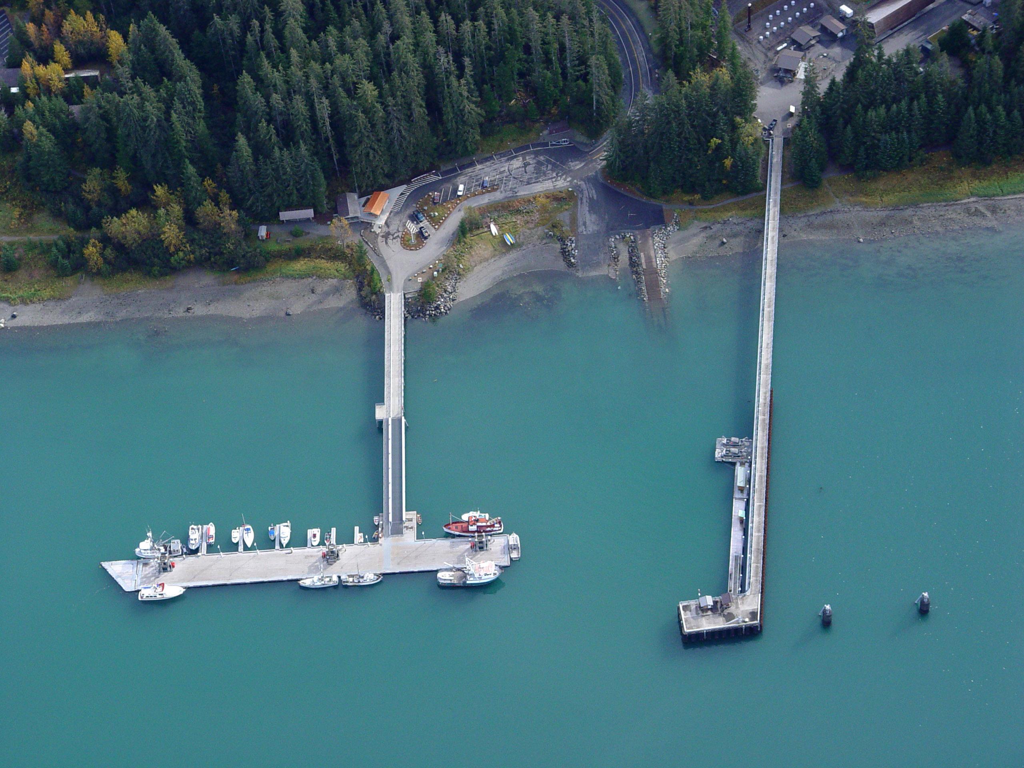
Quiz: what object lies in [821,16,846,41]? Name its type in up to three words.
shed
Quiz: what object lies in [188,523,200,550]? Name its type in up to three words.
boat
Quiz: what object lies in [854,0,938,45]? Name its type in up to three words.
building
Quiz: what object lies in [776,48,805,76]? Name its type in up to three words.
shed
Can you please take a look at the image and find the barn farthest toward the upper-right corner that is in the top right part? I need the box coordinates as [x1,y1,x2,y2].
[961,2,1001,33]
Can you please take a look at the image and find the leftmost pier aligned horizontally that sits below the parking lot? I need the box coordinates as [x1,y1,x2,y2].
[101,534,510,593]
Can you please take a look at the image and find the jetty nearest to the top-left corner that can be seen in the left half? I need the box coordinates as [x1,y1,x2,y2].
[384,290,405,418]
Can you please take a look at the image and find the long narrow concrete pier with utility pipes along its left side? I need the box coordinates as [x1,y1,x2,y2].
[745,136,783,595]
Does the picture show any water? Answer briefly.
Yes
